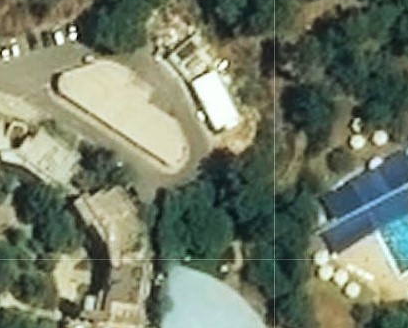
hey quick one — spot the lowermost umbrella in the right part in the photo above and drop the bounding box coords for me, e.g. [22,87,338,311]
[345,283,360,298]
